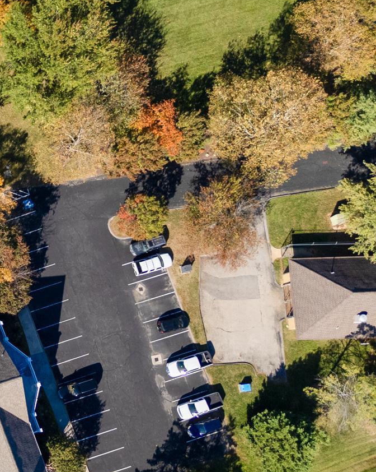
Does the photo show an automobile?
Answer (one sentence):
Yes, looking at the shot, I can spot an automobile.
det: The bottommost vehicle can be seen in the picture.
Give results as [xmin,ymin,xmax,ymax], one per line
[185,417,225,437]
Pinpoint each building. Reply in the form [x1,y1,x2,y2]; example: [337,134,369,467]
[289,257,376,340]
[0,322,47,472]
